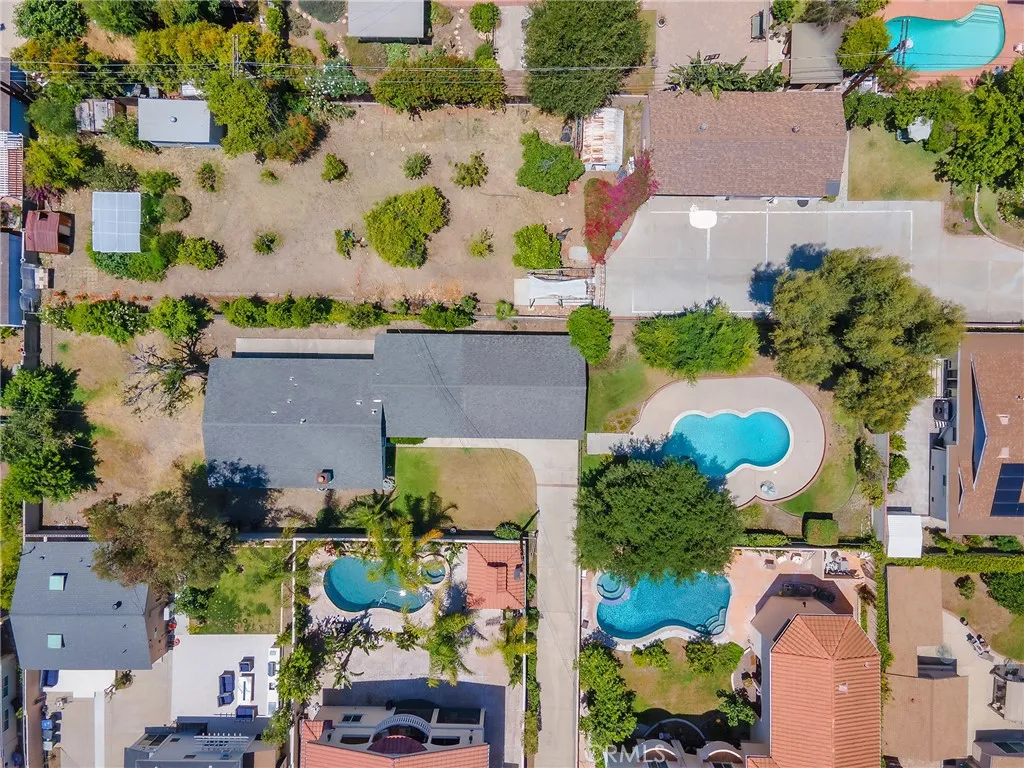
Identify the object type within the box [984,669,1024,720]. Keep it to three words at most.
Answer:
gazebo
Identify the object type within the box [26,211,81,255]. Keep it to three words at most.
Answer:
shed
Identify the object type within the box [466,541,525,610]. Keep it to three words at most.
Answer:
building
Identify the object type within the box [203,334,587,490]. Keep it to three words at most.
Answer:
house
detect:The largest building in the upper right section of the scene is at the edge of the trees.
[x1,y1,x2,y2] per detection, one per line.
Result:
[649,92,848,205]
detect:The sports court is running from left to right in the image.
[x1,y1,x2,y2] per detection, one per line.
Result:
[606,190,1024,322]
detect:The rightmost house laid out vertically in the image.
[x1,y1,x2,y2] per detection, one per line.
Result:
[931,333,1024,534]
